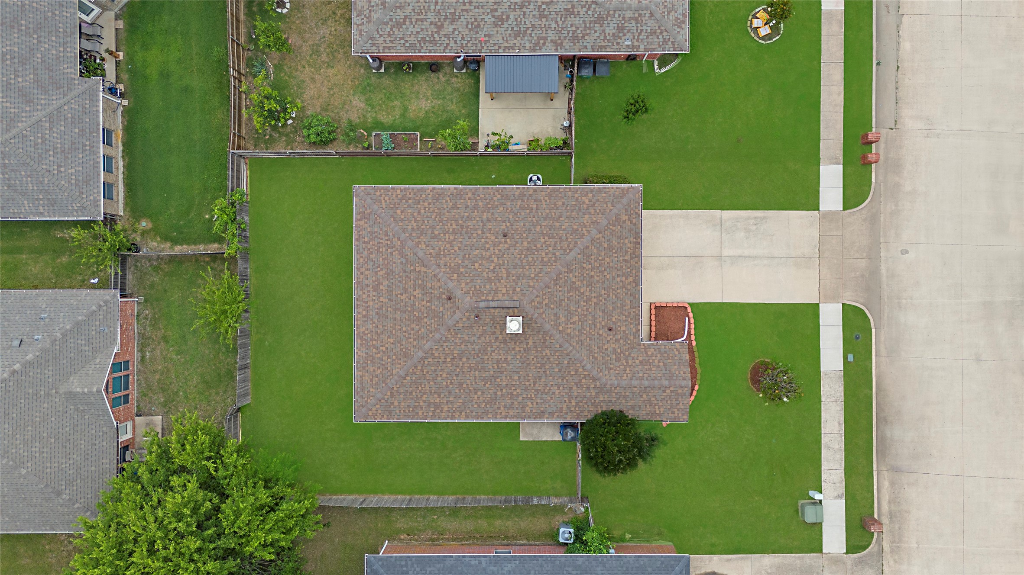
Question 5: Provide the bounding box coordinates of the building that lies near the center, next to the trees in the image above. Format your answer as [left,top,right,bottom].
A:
[353,185,693,422]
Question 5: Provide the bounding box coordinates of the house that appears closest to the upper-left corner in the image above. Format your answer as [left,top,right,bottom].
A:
[0,0,134,220]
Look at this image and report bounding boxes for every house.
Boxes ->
[352,0,689,64]
[0,0,134,220]
[353,185,693,422]
[365,539,690,575]
[0,289,149,534]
